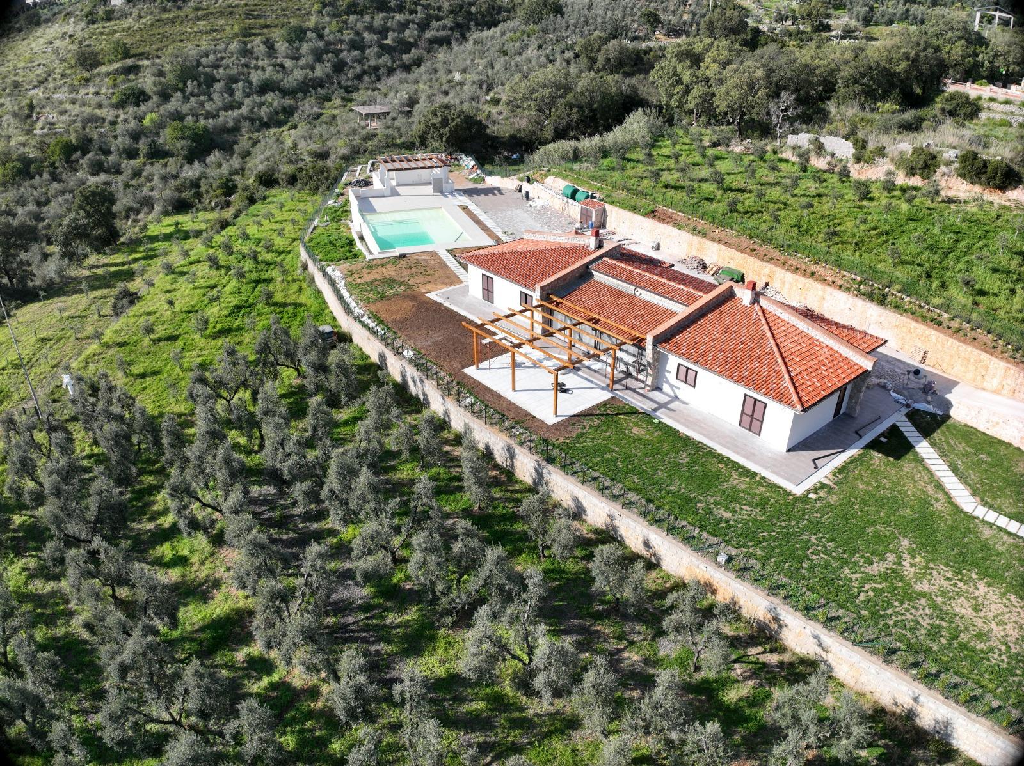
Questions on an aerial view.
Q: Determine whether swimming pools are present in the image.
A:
Yes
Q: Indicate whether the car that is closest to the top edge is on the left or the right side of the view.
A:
left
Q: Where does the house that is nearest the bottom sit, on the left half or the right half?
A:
right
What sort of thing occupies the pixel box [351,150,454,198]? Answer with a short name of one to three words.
building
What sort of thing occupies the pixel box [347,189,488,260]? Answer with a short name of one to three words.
swimming pool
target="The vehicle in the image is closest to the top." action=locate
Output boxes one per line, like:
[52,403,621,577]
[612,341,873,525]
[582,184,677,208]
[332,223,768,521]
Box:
[316,318,342,347]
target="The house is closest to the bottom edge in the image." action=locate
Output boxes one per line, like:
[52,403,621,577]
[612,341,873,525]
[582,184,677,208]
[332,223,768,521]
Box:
[457,229,891,451]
